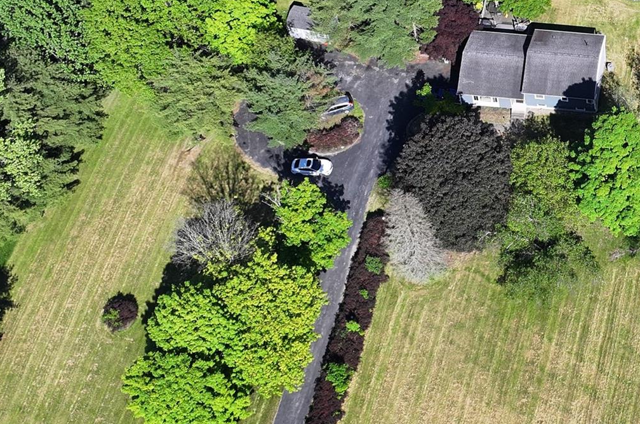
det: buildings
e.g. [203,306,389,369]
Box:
[457,29,607,127]
[286,7,337,43]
